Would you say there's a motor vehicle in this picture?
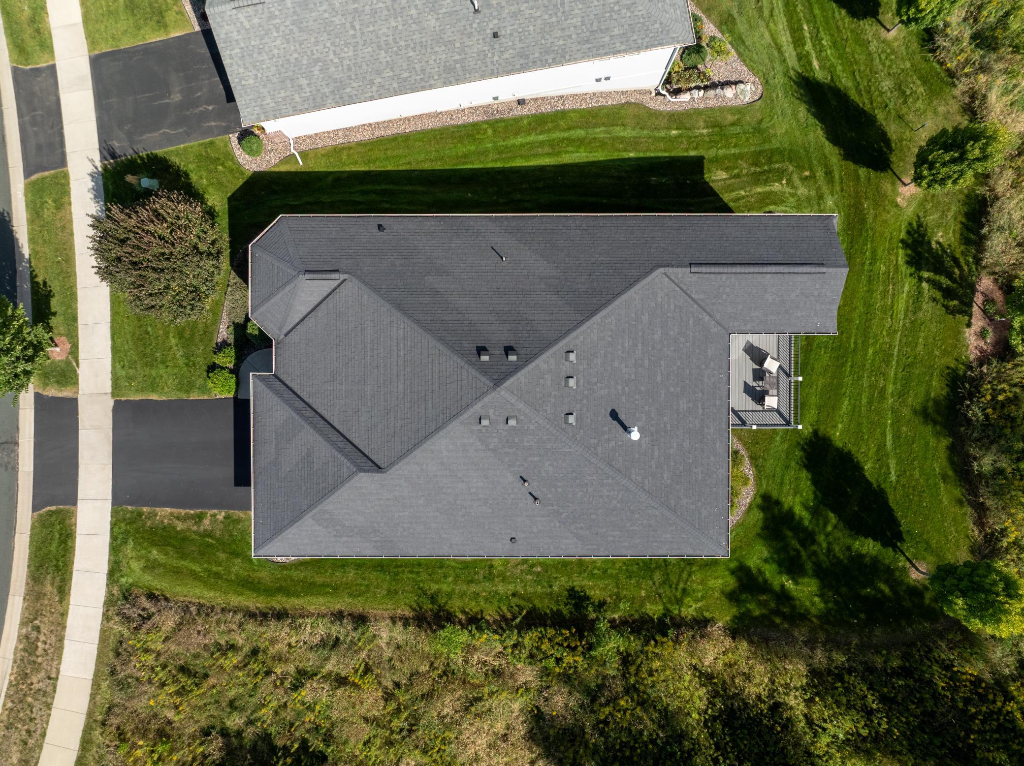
No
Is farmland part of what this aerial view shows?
No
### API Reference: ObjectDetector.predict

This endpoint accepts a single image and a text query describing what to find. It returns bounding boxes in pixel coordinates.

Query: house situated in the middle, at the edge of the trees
[250,215,848,558]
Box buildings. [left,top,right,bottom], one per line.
[207,0,695,164]
[250,215,848,558]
